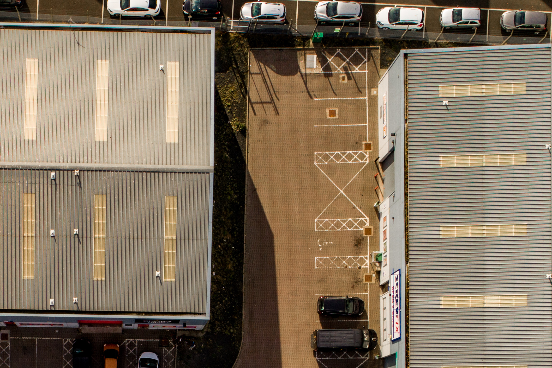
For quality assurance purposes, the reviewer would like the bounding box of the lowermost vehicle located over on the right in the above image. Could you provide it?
[311,327,377,353]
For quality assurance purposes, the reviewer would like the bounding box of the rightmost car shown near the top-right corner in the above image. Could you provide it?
[501,8,550,34]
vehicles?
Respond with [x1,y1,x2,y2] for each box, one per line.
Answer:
[440,4,484,28]
[373,5,420,31]
[240,0,287,24]
[317,293,365,317]
[311,327,377,353]
[71,340,93,368]
[100,343,121,368]
[182,0,222,19]
[107,0,160,18]
[501,8,550,34]
[137,352,161,368]
[315,1,364,25]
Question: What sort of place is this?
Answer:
industrial area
